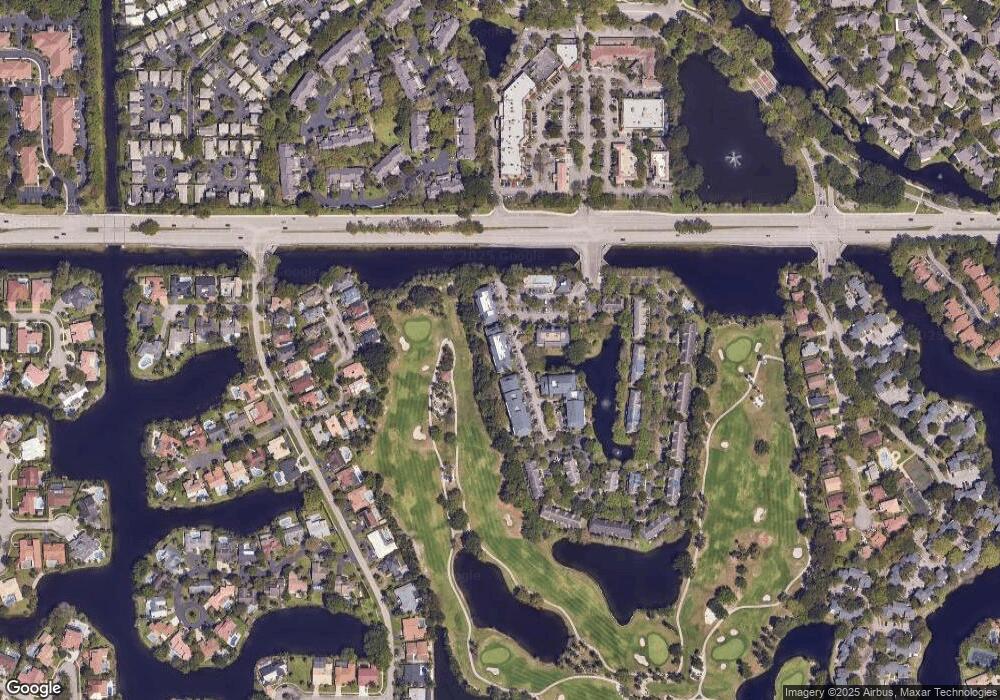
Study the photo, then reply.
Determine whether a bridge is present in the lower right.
No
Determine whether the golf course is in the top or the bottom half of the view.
bottom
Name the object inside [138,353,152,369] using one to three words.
swimming pool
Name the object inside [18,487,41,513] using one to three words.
house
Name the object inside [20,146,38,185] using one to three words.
building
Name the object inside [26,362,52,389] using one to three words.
house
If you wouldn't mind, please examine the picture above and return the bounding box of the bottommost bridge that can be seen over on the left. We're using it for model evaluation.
[241,243,277,274]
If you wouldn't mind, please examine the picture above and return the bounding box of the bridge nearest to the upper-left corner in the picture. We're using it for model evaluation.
[103,213,126,248]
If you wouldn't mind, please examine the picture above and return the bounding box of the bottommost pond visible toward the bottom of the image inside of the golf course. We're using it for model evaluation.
[453,550,567,662]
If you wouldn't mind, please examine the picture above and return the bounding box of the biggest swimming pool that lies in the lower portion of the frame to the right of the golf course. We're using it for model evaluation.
[878,447,900,469]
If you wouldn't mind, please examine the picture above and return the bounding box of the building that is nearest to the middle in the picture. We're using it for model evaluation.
[480,322,515,376]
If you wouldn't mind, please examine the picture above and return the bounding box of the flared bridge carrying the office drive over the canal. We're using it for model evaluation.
[572,244,610,272]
